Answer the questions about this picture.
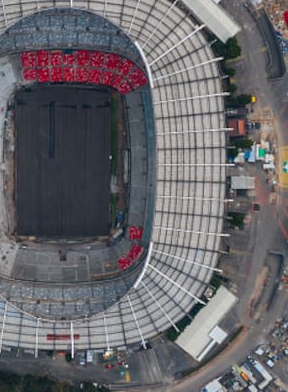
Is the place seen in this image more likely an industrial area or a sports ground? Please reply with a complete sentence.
This looks like a sports ground.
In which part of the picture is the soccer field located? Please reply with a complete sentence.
The soccer field is in the left part of the image.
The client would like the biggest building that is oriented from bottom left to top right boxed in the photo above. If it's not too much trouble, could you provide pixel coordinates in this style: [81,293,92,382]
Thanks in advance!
[173,284,237,360]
